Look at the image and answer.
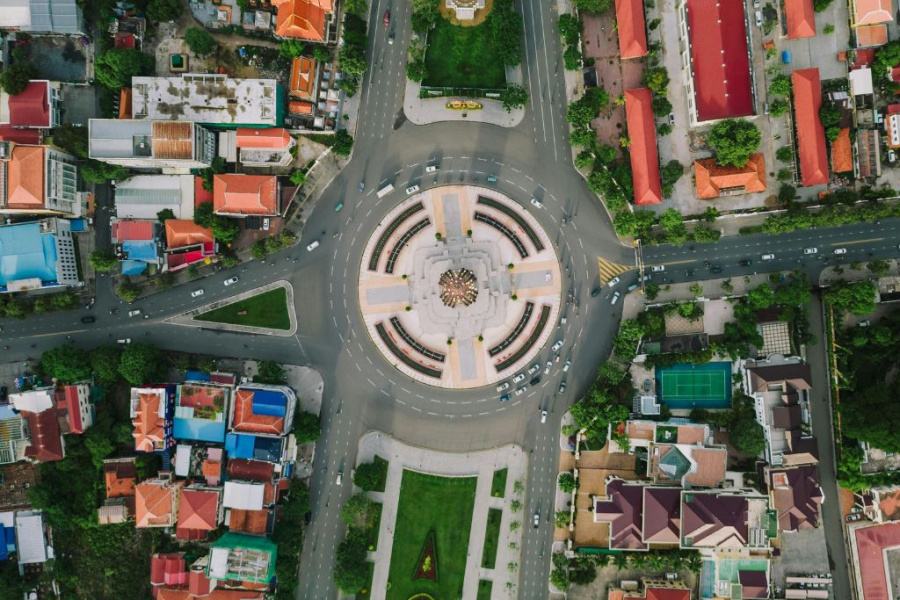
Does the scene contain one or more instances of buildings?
Yes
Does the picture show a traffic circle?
Yes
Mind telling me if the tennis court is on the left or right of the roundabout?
right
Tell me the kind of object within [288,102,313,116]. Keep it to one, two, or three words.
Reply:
shed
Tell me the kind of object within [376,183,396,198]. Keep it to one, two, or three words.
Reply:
vehicle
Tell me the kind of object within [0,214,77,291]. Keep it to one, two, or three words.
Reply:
building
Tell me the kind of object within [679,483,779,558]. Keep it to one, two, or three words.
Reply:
house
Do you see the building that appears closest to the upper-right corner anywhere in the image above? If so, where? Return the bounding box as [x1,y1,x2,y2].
[841,0,894,50]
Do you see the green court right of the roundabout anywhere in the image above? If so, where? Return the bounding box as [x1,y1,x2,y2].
[656,362,731,408]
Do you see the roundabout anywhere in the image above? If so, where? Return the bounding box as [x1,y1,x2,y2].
[326,152,594,420]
